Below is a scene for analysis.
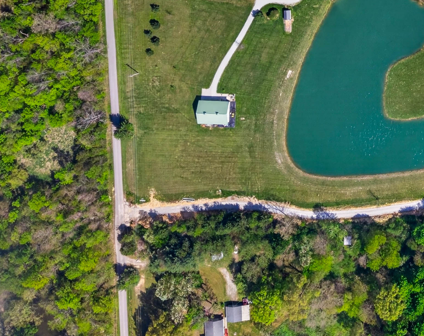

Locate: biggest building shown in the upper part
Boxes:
[198,100,231,125]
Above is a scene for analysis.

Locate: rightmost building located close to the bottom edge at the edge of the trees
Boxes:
[226,303,252,322]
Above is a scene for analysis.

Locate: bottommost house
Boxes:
[204,317,225,336]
